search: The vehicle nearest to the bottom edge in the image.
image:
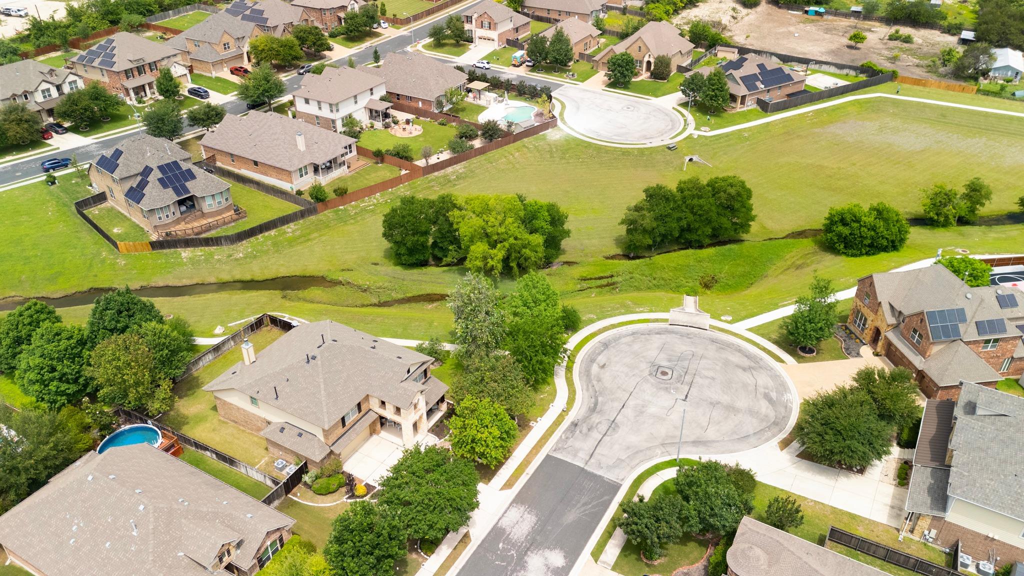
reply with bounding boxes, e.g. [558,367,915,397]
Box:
[40,156,70,170]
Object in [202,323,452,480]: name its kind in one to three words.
house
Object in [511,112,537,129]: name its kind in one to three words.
shed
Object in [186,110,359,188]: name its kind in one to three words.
house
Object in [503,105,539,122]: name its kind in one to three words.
swimming pool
